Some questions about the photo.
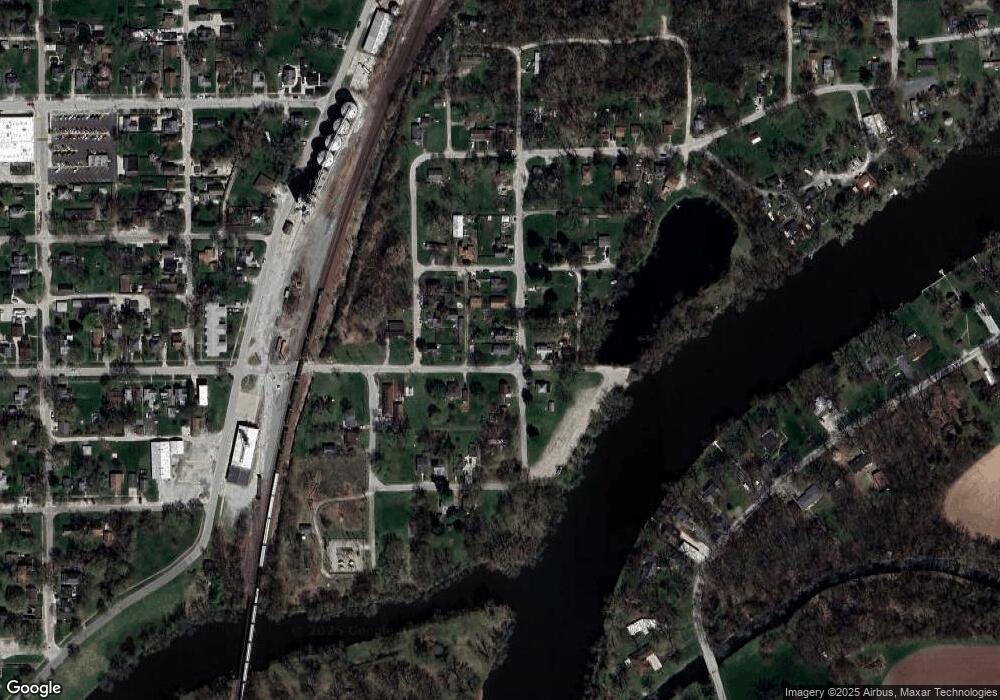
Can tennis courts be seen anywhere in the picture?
No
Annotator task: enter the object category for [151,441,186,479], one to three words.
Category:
building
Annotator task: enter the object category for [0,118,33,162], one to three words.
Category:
building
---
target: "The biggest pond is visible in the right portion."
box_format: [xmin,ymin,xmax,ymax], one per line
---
[600,197,737,363]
